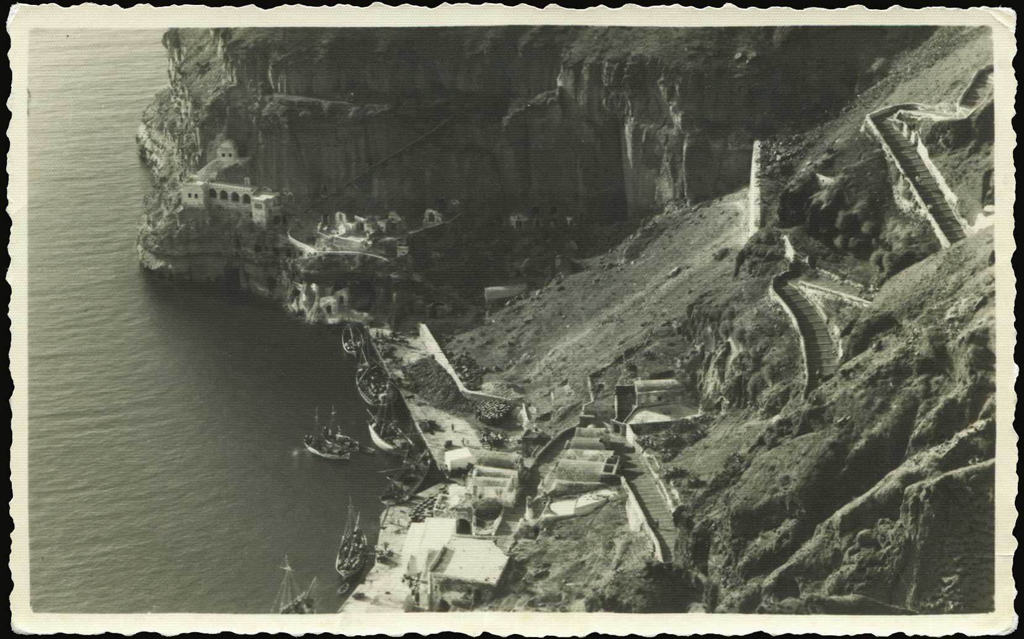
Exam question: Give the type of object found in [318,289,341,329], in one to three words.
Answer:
house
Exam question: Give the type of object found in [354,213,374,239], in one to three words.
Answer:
house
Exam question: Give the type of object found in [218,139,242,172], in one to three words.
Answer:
building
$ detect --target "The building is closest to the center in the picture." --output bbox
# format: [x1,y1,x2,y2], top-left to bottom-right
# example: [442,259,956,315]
[486,283,527,312]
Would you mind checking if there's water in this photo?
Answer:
Yes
